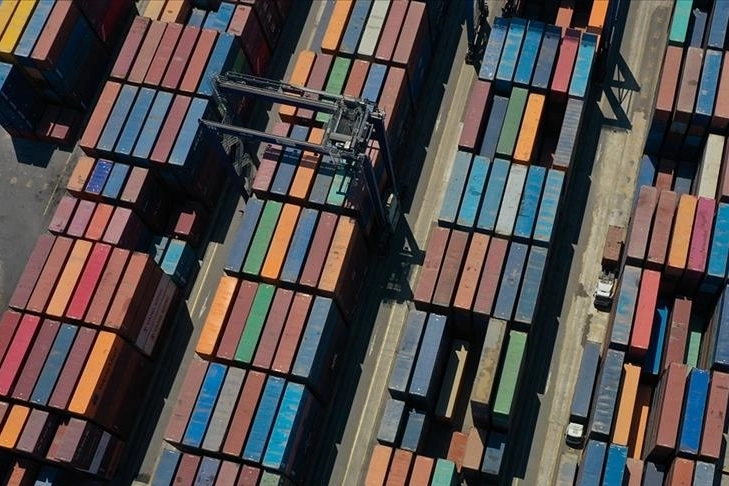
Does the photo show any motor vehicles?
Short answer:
Yes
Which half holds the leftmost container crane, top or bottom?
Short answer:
top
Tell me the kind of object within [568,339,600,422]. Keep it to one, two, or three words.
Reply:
shipping container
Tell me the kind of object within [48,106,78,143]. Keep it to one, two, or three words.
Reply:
shipping container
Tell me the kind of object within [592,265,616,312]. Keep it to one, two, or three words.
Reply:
truck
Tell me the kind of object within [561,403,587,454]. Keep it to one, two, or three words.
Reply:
truck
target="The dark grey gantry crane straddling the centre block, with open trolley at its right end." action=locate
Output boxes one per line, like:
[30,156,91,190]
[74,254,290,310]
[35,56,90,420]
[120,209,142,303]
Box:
[196,74,406,246]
